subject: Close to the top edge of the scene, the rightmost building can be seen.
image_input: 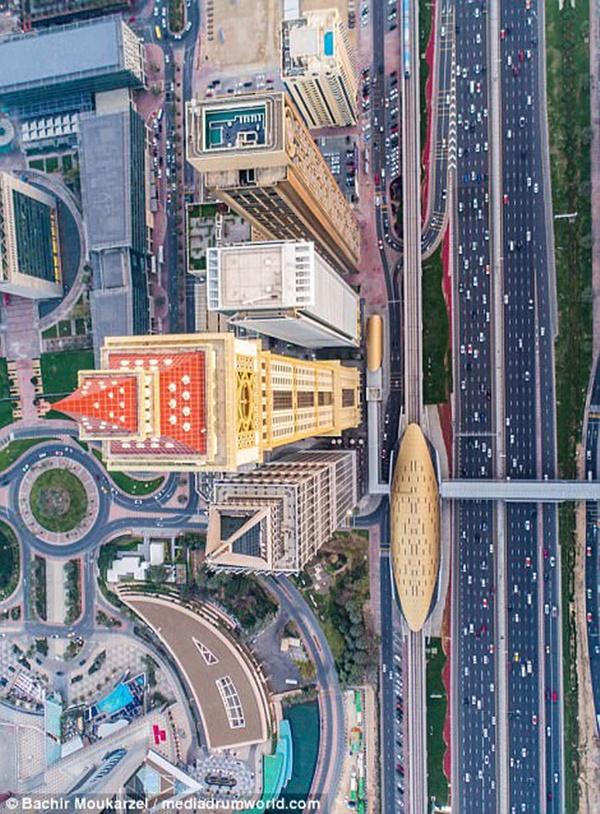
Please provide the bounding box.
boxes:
[282,9,361,134]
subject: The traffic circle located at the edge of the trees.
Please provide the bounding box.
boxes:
[7,444,111,556]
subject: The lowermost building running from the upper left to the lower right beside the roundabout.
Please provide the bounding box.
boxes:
[115,588,274,751]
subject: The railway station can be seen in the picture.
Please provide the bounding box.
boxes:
[388,425,443,632]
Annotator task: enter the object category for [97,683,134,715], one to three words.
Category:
swimming pool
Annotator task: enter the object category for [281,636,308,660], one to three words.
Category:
shed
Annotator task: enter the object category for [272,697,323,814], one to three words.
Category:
pond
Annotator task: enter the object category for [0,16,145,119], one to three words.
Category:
building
